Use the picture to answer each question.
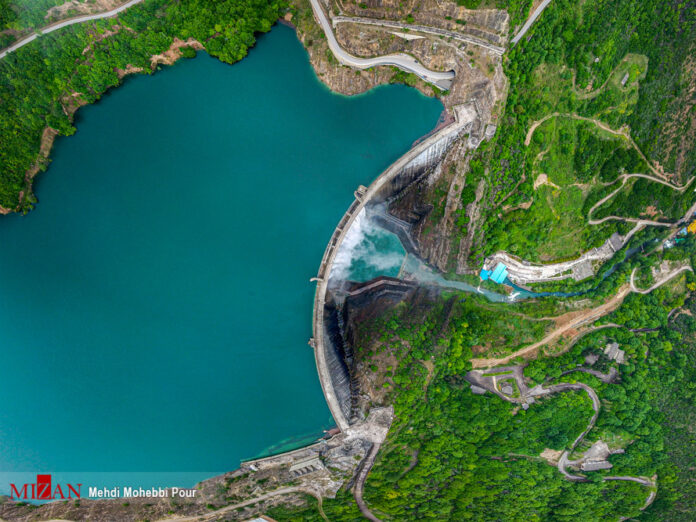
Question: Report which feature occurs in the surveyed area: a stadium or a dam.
dam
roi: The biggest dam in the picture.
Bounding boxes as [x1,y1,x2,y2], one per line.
[308,117,464,430]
